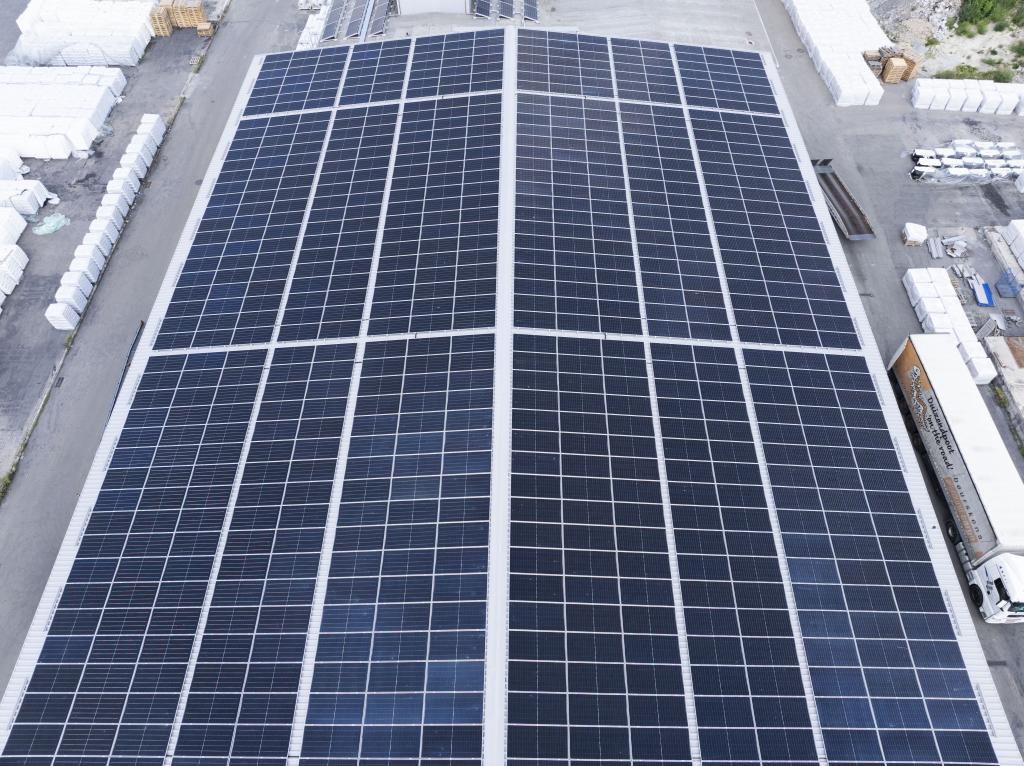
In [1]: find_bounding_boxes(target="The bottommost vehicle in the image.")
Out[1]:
[885,333,1024,623]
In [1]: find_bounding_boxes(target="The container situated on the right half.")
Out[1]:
[811,163,873,245]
